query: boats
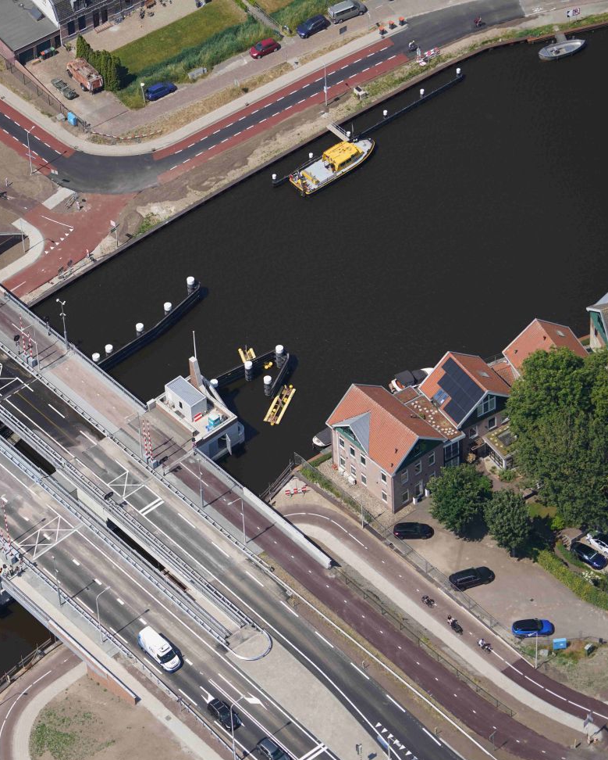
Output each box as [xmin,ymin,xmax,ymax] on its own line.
[537,39,584,59]
[387,363,432,390]
[307,421,329,448]
[286,133,373,198]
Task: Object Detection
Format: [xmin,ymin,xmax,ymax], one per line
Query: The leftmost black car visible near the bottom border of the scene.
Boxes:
[201,691,248,733]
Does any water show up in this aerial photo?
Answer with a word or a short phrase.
Yes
